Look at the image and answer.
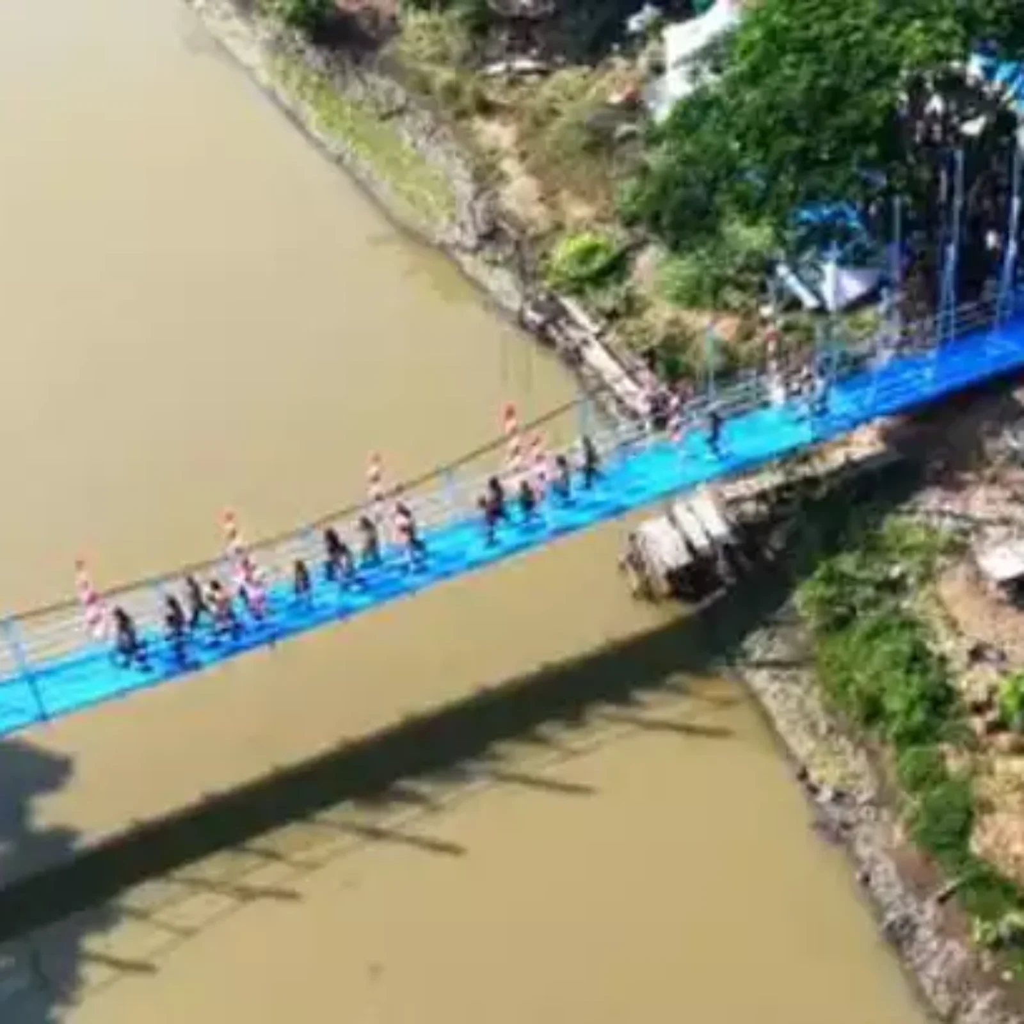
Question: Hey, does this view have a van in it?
No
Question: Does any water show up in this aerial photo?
Yes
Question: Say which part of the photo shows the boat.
top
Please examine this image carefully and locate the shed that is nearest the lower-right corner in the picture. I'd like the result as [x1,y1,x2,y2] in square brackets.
[976,539,1024,614]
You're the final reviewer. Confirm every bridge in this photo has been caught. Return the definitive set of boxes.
[0,94,1024,748]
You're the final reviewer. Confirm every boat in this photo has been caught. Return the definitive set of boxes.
[481,56,556,78]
